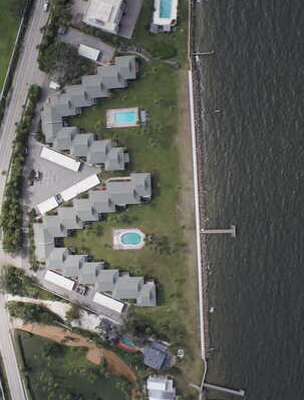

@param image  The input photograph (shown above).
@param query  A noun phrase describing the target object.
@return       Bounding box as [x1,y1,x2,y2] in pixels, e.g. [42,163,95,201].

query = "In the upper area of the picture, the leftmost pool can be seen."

[107,108,138,128]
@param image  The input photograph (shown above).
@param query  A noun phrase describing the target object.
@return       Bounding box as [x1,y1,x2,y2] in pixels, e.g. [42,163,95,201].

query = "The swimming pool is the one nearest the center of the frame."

[114,228,145,249]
